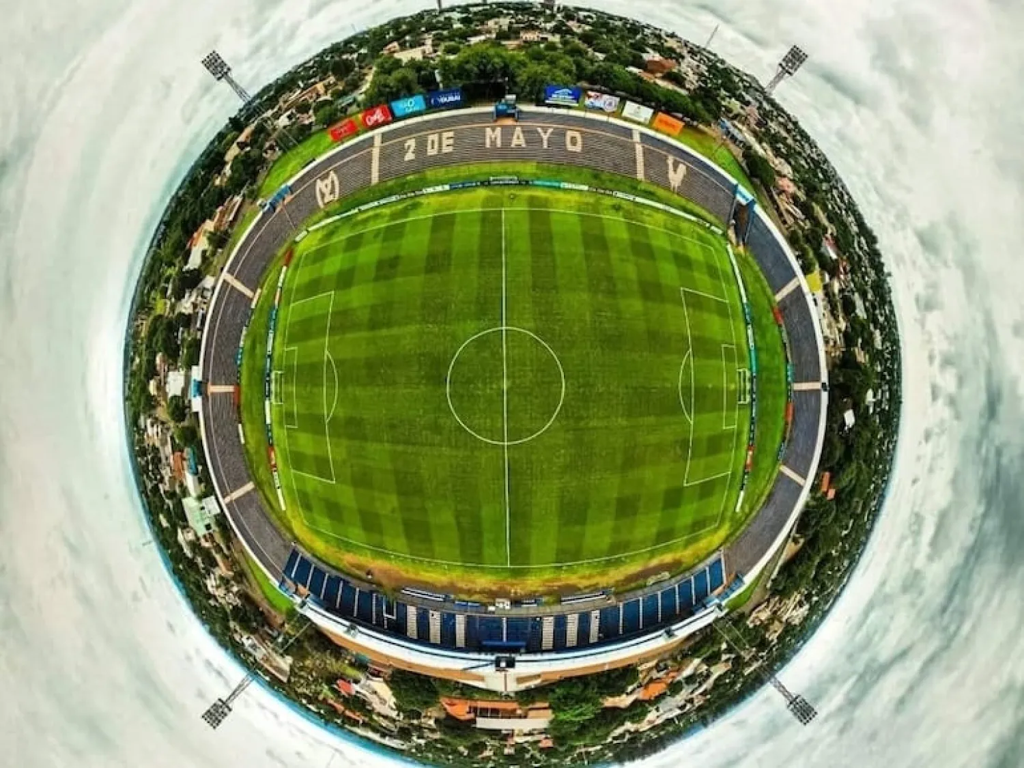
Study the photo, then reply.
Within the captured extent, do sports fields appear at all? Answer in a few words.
Yes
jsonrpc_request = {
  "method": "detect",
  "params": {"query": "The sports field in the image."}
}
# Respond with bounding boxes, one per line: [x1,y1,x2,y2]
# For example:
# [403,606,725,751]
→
[280,205,740,569]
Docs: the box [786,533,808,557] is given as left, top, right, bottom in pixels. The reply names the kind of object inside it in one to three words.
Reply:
house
